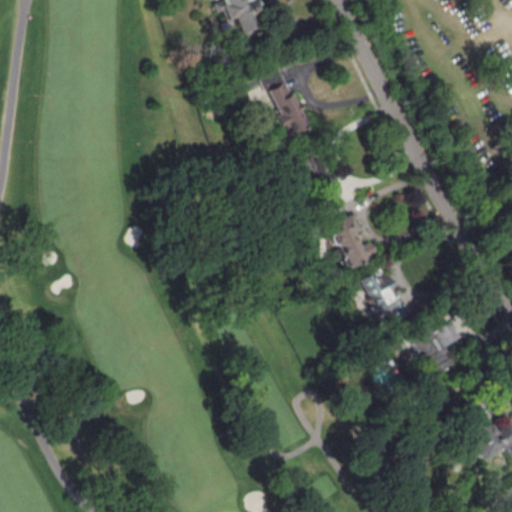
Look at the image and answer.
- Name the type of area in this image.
golf course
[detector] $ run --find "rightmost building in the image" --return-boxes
[482,421,512,464]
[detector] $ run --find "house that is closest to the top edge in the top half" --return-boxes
[210,0,267,36]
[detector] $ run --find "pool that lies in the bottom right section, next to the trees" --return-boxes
[374,366,388,384]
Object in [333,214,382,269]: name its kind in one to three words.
house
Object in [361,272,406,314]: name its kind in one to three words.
house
